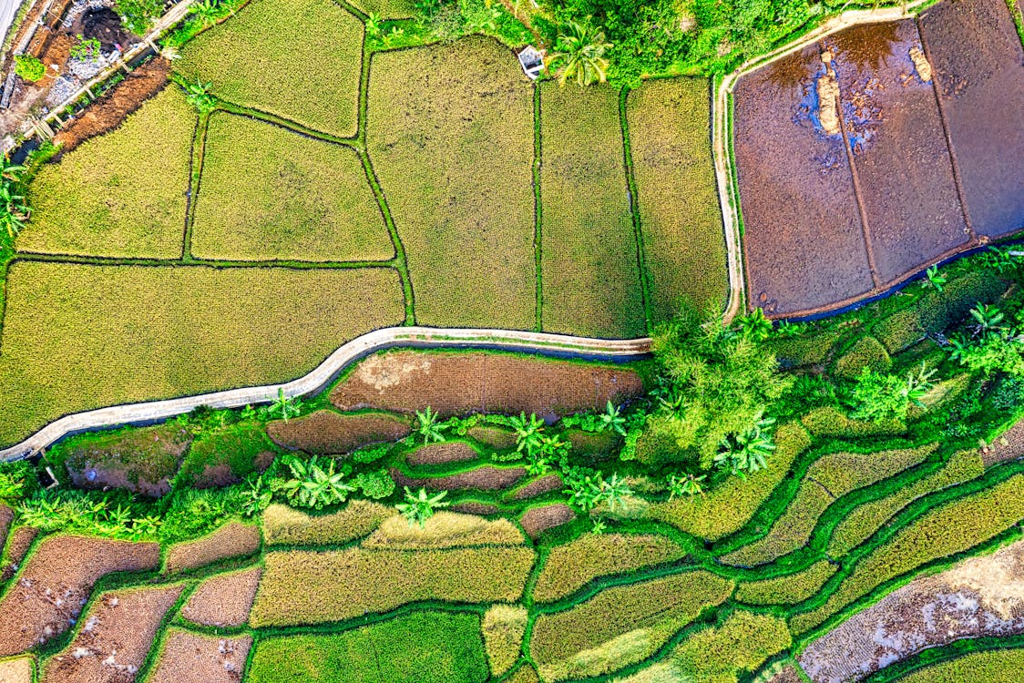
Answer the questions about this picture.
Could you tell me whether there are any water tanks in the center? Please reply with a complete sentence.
No, I can find no water tank in the center.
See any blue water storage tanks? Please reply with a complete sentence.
No, I can see no blue water storage tank in this picture.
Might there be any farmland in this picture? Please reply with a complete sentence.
Yes, farmland can be seen from above here.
